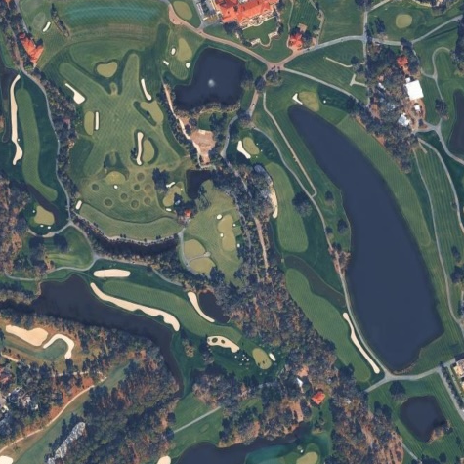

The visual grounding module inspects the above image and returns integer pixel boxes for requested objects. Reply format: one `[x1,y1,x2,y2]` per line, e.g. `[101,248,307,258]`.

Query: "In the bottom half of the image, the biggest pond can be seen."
[399,395,450,444]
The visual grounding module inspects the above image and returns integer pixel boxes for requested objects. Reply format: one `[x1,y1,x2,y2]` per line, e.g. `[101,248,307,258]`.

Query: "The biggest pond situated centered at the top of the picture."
[173,45,248,110]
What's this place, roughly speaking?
golf course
